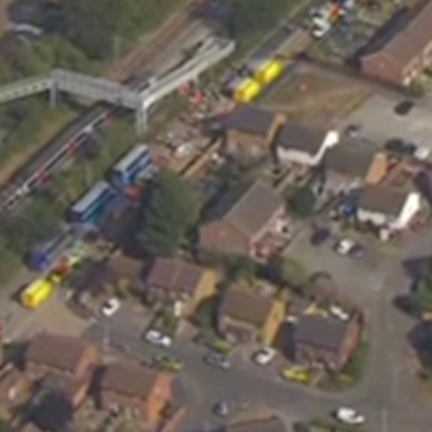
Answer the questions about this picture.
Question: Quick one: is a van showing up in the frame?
Yes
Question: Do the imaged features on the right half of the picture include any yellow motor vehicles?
Yes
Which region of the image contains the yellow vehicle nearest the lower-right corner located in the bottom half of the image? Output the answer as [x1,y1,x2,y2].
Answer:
[280,365,310,384]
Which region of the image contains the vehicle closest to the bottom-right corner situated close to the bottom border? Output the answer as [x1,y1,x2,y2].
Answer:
[333,407,365,424]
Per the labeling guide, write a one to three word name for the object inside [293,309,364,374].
house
